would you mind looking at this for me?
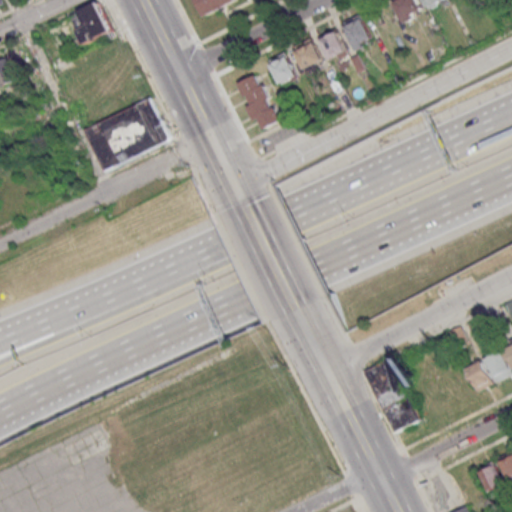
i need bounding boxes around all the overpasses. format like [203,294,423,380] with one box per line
[189,144,348,356]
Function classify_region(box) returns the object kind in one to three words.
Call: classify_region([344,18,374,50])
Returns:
house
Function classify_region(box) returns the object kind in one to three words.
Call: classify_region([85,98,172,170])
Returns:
building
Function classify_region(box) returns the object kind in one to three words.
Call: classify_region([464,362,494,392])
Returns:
house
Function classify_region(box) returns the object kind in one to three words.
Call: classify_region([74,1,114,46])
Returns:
building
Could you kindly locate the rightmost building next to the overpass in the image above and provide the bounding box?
[238,74,280,128]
